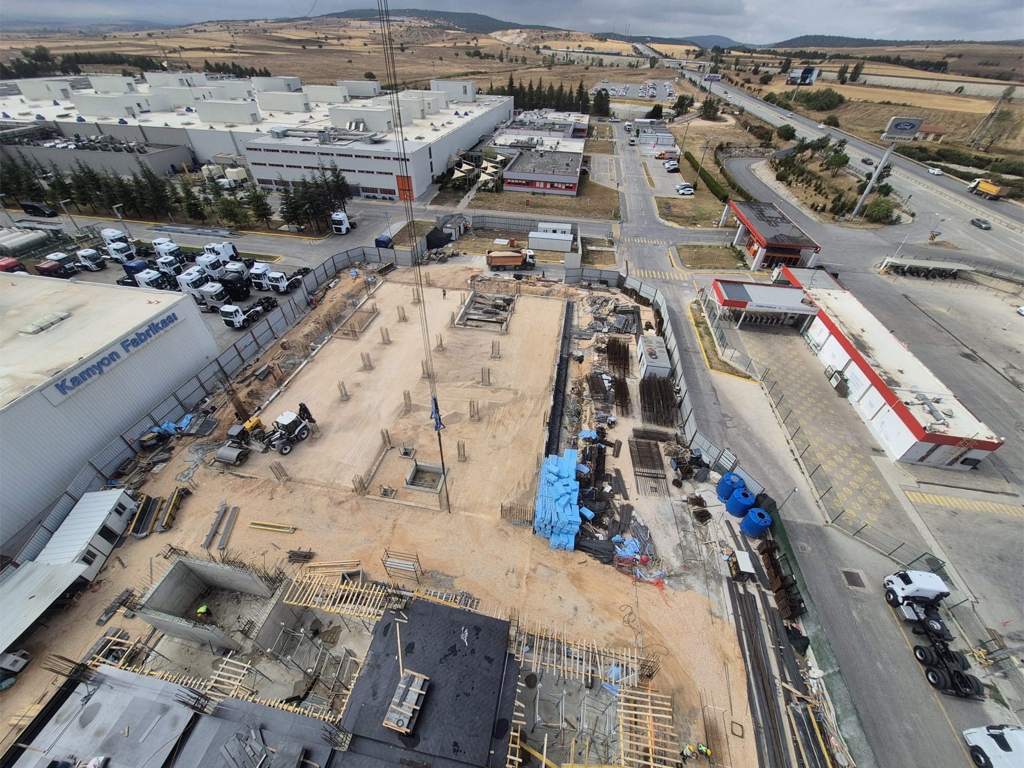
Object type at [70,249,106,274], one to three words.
truck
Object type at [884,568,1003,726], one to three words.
truck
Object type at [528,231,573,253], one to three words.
building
